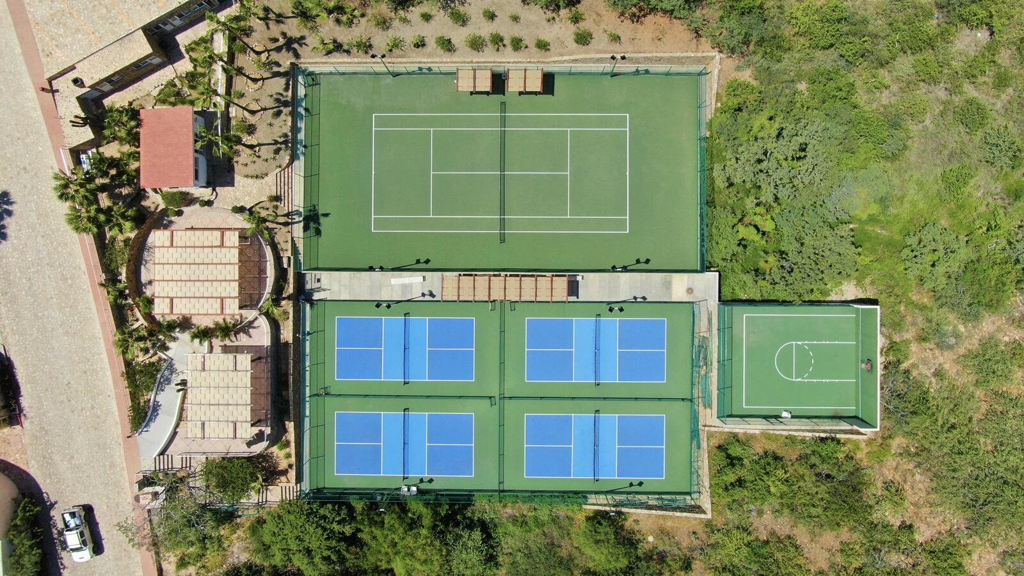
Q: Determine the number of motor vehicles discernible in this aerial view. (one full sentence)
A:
In total, there is 1 motor vehicle in the scene.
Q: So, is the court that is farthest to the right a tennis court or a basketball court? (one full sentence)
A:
Specifically, the court that is farthest to the right is a basketball court.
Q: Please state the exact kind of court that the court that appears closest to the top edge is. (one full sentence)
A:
The court that appears closest to the top edge can be classified as a tennis court.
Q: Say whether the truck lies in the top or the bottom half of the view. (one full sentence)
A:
You can find the truck in the bottom half.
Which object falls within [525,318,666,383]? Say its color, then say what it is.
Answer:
blue sports court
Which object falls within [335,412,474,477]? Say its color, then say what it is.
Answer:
blue sports court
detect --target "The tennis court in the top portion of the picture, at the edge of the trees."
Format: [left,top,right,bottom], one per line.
[304,74,699,271]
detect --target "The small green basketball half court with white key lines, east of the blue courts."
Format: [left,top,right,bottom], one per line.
[718,304,855,420]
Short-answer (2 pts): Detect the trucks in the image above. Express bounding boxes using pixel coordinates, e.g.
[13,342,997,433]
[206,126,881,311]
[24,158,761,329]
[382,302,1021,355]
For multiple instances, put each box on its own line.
[60,506,97,563]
